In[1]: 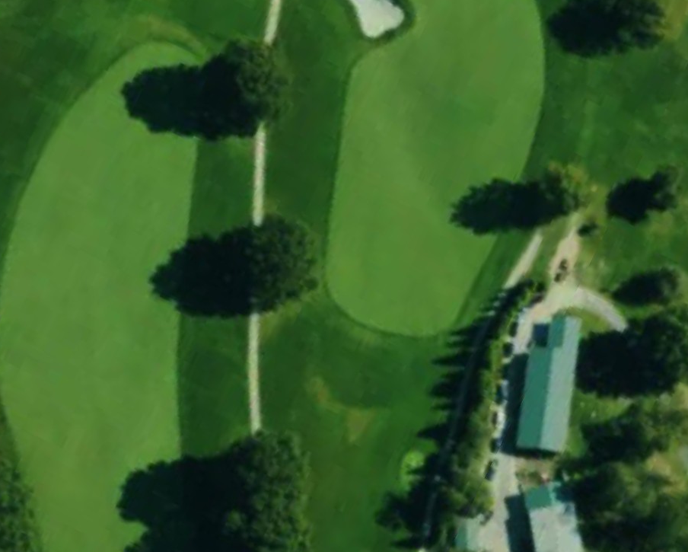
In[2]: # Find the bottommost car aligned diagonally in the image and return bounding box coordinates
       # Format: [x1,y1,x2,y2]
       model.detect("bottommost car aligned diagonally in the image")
[479,510,494,525]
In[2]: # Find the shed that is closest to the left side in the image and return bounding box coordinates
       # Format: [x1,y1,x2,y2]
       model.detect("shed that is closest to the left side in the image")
[453,520,482,552]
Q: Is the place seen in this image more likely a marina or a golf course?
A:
golf course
